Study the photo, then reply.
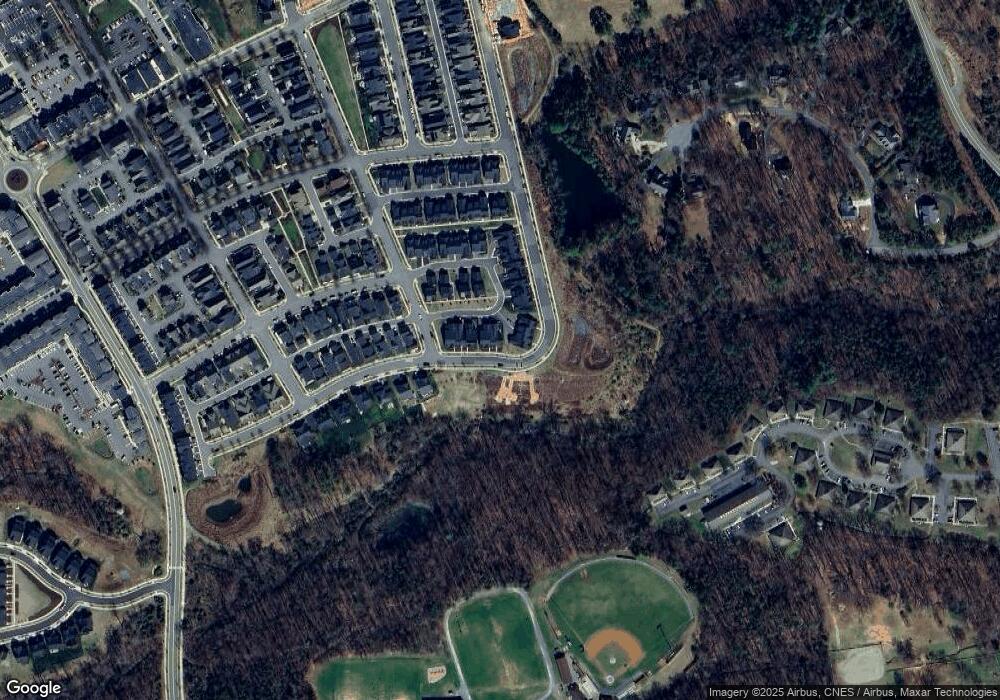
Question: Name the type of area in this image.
residential area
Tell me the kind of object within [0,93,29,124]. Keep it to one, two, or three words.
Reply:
building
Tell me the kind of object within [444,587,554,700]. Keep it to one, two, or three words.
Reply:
sports field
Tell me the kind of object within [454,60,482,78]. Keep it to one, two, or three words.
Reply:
house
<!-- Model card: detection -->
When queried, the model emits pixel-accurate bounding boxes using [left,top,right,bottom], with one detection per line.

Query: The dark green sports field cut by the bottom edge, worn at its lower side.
[312,655,423,700]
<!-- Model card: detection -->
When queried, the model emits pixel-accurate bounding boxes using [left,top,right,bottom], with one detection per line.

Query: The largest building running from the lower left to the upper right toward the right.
[706,482,771,534]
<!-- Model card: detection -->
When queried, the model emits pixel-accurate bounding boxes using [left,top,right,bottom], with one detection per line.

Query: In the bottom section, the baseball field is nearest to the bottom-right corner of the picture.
[547,557,695,694]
